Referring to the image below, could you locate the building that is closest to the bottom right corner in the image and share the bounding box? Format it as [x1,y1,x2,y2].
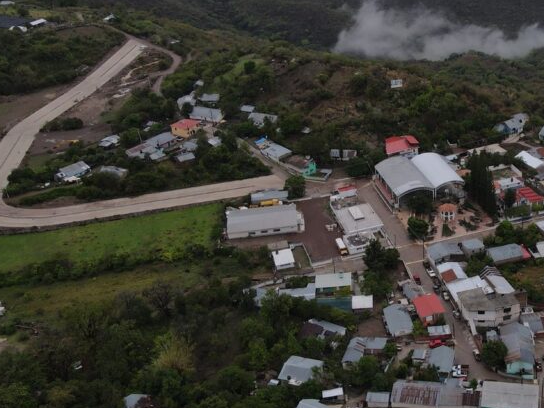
[479,380,540,408]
